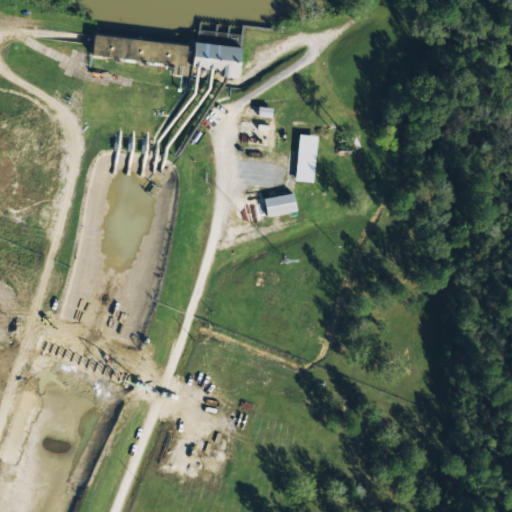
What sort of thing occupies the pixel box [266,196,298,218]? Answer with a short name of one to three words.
shed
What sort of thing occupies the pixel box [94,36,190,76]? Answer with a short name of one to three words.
building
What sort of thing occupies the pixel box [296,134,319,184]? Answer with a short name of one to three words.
building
